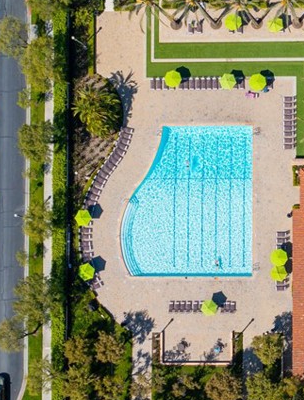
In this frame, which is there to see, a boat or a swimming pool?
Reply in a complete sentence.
Looking from above, you can make out a swimming pool.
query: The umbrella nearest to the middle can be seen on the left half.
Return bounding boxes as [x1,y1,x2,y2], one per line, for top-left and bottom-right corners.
[76,210,92,227]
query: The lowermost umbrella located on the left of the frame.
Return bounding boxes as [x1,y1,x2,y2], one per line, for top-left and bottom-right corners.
[79,262,96,279]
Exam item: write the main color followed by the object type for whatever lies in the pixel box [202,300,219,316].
green umbrella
